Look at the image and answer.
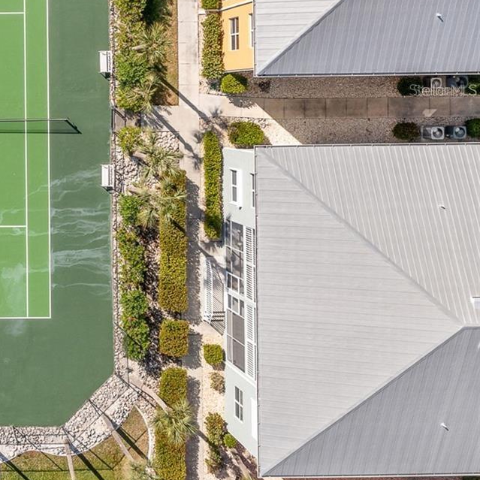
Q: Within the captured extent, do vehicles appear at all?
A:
No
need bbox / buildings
[195,142,480,475]
[217,0,480,74]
